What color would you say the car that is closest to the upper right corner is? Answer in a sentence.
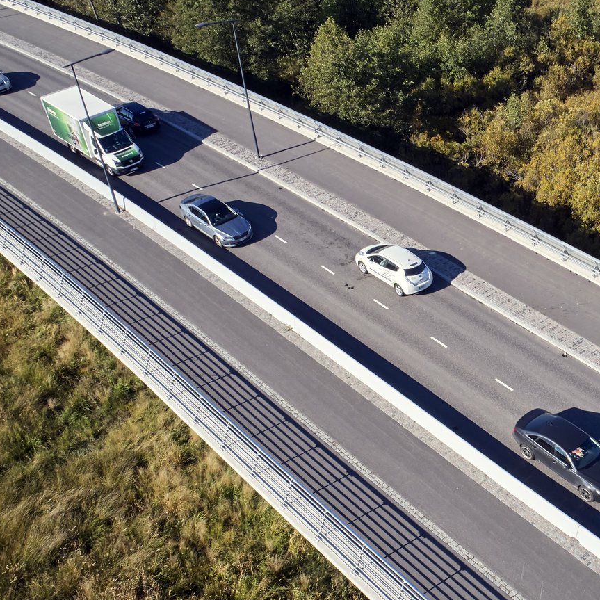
In this view, the car that is closest to the upper right corner is white.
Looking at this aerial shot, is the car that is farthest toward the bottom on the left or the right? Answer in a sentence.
The car that is farthest toward the bottom appears in the right half of the scene.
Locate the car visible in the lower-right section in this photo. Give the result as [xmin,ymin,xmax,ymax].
[514,408,600,501]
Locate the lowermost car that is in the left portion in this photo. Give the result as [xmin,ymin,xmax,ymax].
[179,193,253,247]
